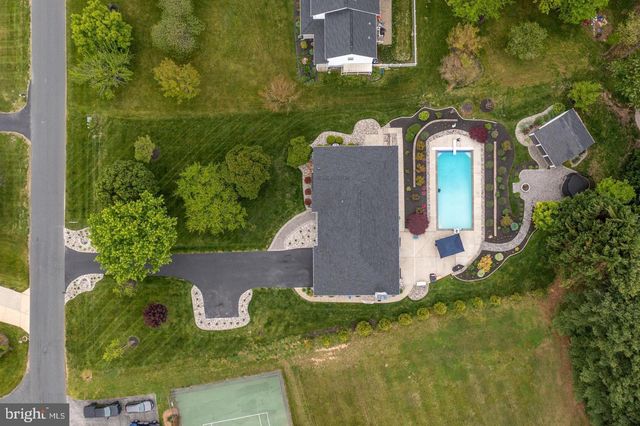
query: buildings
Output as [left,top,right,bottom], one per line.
[312,145,400,302]
[526,107,596,168]
[301,0,378,79]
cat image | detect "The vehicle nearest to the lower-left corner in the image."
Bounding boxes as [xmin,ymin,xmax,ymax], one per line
[83,402,121,419]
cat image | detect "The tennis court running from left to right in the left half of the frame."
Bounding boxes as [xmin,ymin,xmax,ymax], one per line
[171,370,291,426]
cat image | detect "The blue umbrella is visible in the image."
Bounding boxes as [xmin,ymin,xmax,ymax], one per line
[435,234,464,258]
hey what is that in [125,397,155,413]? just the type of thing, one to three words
car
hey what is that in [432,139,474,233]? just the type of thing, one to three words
swimming pool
